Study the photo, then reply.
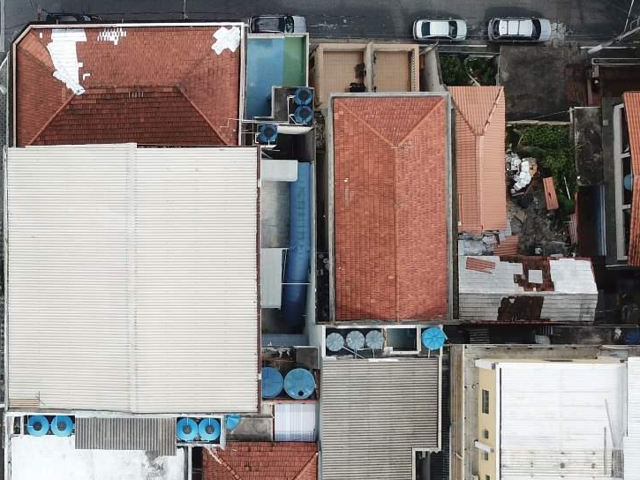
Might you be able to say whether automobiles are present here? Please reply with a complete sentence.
Yes, the frame does contain an automobile.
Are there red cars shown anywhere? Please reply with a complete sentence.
No, the scene contains no red car.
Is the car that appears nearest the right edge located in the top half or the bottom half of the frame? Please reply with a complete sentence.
You can find the car that appears nearest the right edge in the top half.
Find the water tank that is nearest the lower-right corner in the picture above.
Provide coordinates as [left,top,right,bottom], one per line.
[420,327,446,351]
